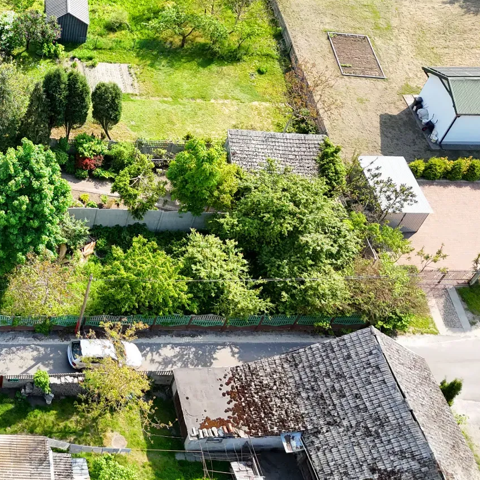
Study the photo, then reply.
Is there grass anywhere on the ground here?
Yes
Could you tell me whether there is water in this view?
No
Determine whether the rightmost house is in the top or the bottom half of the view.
top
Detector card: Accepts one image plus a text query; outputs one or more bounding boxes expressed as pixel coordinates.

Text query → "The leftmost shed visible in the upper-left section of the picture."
[43,0,89,42]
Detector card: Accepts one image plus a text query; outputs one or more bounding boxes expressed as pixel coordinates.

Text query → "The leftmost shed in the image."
[0,434,59,480]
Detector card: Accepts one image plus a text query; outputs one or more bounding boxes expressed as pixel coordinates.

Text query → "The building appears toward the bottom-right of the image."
[230,326,480,480]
